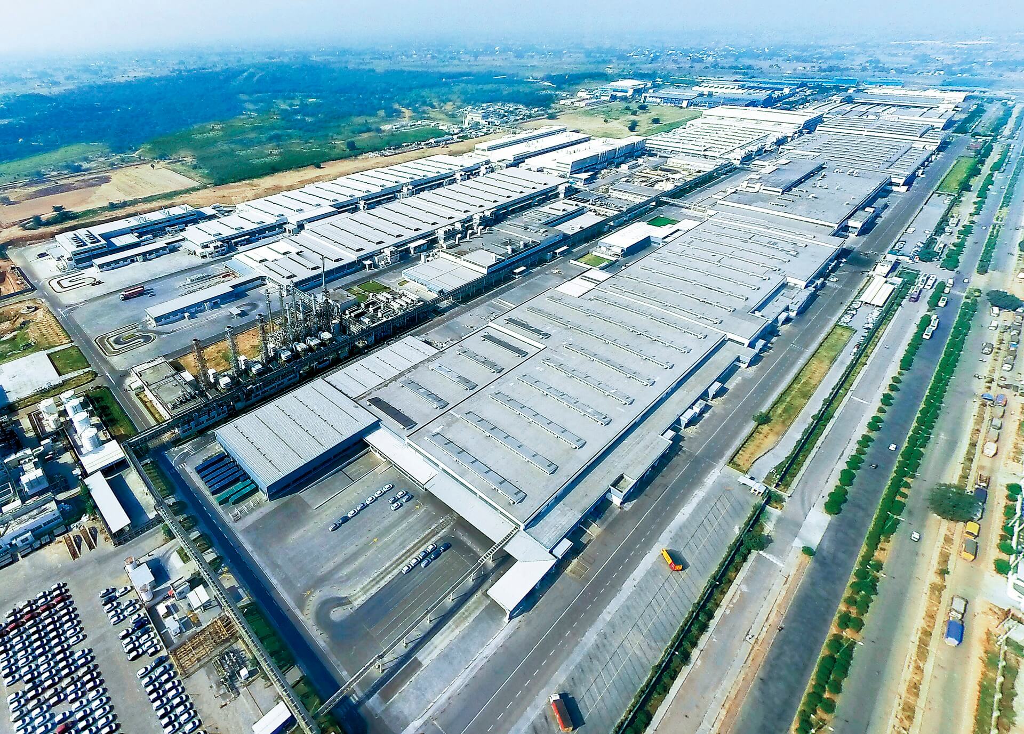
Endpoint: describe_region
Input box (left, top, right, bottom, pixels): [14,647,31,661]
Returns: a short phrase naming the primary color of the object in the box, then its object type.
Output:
white car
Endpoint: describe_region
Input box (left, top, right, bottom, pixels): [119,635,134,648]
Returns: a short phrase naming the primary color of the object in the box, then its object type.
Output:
white vehicle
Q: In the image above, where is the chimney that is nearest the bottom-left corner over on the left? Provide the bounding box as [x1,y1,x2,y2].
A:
[189,339,210,397]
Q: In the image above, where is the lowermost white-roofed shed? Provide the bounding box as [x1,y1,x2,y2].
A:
[251,700,291,734]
